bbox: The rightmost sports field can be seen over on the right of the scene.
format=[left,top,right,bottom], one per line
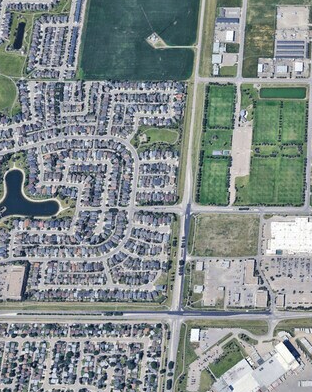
[281,102,308,143]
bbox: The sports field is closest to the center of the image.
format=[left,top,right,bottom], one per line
[199,161,229,203]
